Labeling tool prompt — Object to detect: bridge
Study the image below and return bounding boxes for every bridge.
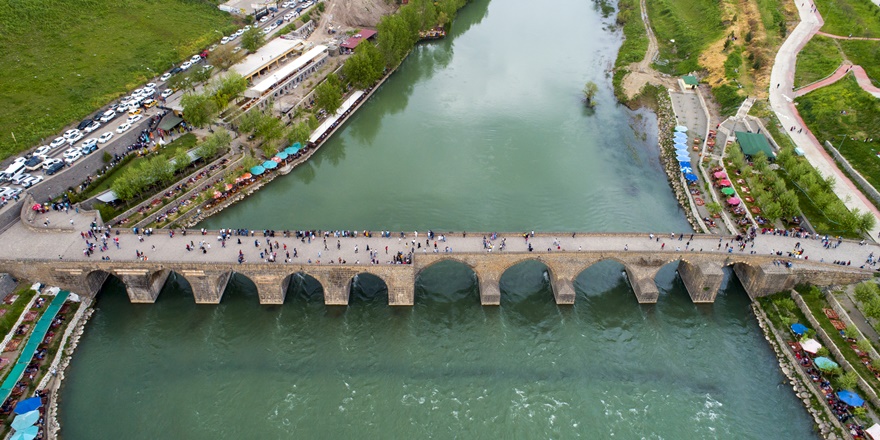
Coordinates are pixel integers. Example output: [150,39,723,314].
[0,229,880,304]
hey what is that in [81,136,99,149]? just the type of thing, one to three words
vehicle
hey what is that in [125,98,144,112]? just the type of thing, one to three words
vehicle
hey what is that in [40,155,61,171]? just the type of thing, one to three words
car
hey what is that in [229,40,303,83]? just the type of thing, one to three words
building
